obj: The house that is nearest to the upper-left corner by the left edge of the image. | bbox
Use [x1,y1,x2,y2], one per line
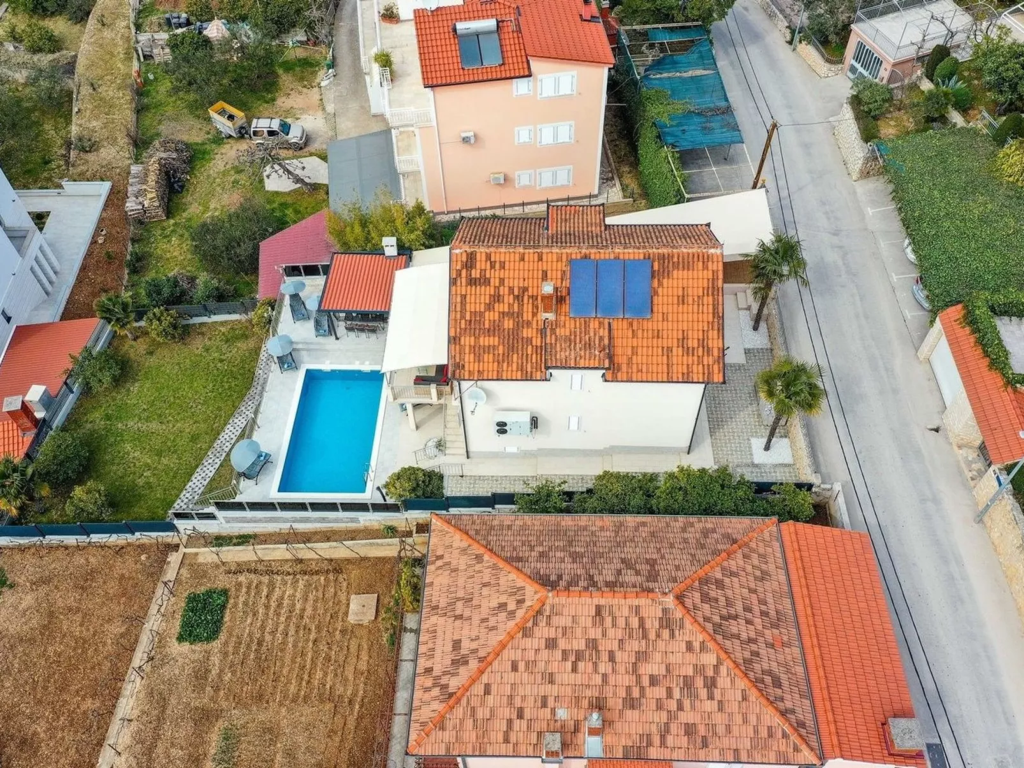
[0,177,66,316]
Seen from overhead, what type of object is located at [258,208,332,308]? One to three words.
shed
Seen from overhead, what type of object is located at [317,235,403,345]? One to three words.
building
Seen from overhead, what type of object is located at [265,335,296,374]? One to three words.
umbrella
